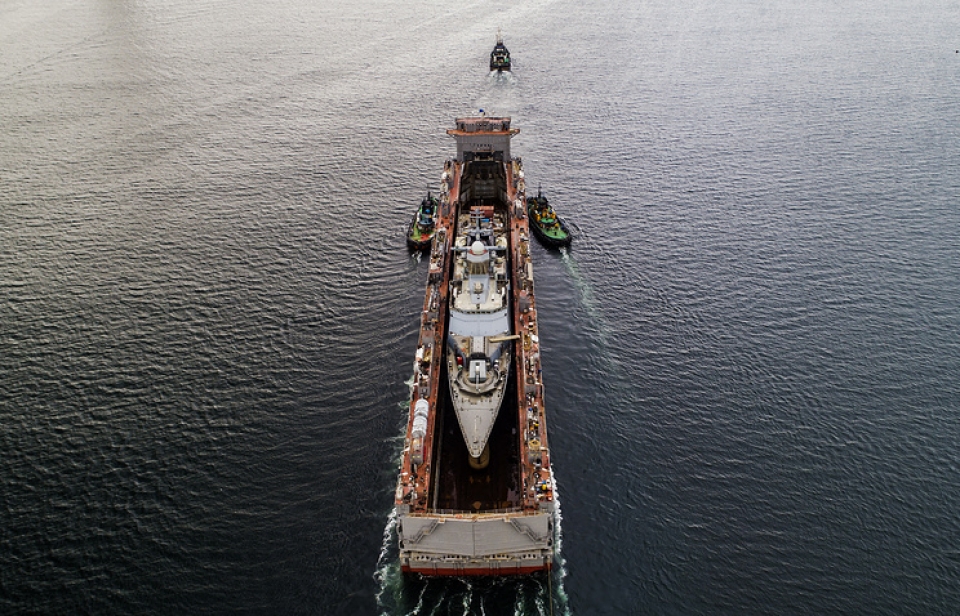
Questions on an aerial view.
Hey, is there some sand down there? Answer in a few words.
No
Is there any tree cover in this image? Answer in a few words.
No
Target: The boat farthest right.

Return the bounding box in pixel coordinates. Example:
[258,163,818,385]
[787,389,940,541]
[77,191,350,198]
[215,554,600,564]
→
[525,187,572,251]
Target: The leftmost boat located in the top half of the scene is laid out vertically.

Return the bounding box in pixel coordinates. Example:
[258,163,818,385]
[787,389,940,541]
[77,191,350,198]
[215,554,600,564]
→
[406,178,437,250]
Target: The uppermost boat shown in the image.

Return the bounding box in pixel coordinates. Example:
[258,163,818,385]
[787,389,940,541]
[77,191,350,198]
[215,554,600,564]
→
[489,32,512,72]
